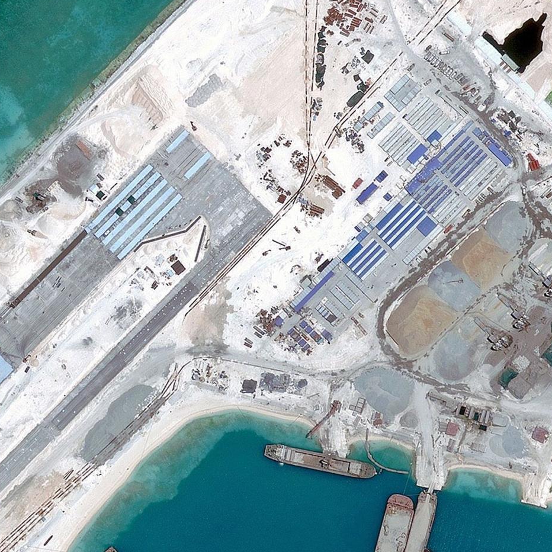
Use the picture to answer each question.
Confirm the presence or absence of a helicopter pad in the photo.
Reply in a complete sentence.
No, the frame has no helicopter pad in it.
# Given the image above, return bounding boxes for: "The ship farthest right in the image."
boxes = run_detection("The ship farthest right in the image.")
[406,482,437,552]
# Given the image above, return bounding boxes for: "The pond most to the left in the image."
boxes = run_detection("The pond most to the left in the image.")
[482,13,547,72]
